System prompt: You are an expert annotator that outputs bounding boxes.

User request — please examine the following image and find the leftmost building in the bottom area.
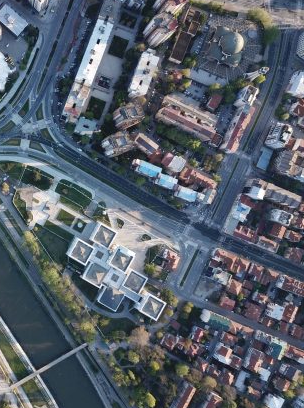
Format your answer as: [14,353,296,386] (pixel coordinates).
[67,237,94,266]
